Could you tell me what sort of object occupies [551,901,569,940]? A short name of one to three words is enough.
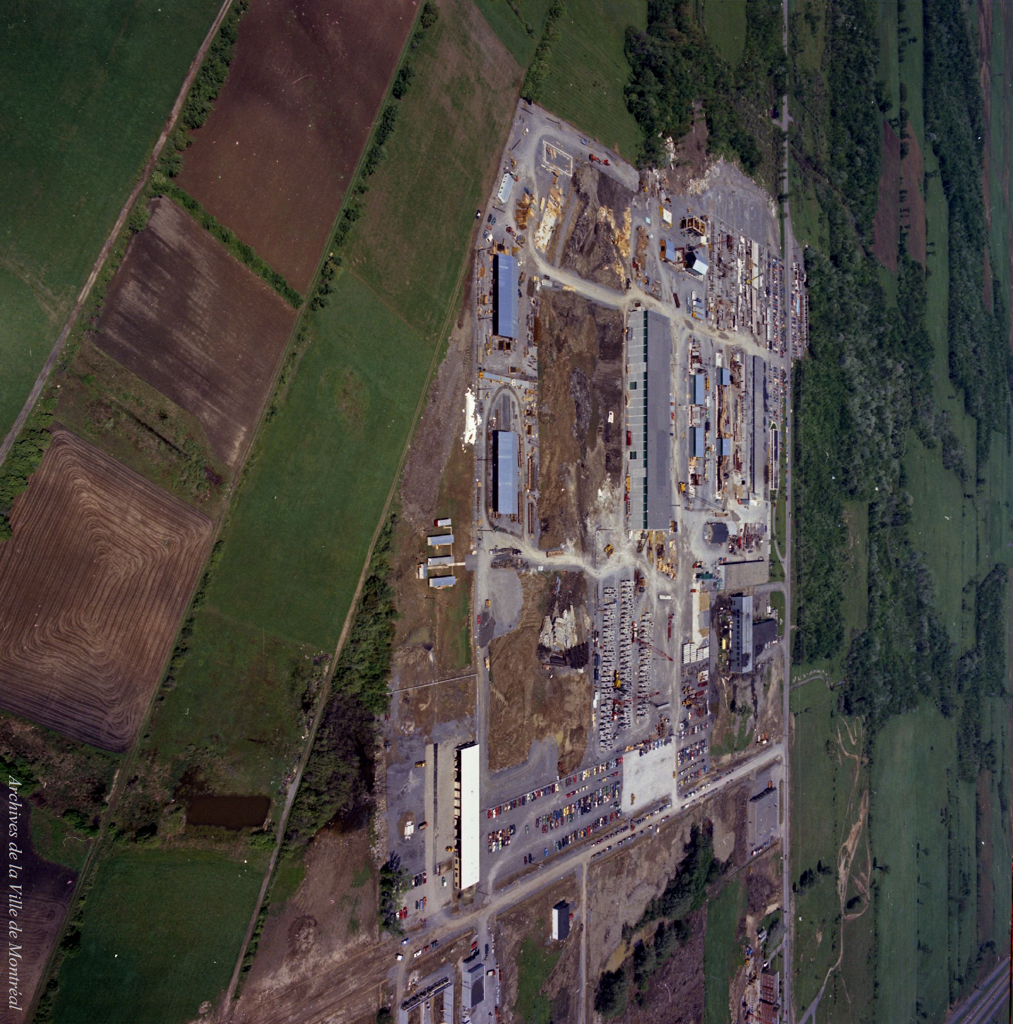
barn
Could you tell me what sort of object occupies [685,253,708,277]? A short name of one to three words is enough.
building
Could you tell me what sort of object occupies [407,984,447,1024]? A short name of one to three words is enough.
building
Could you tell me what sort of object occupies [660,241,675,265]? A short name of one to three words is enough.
shed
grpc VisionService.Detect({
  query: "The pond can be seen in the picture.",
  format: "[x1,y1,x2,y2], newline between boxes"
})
[186,796,271,831]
